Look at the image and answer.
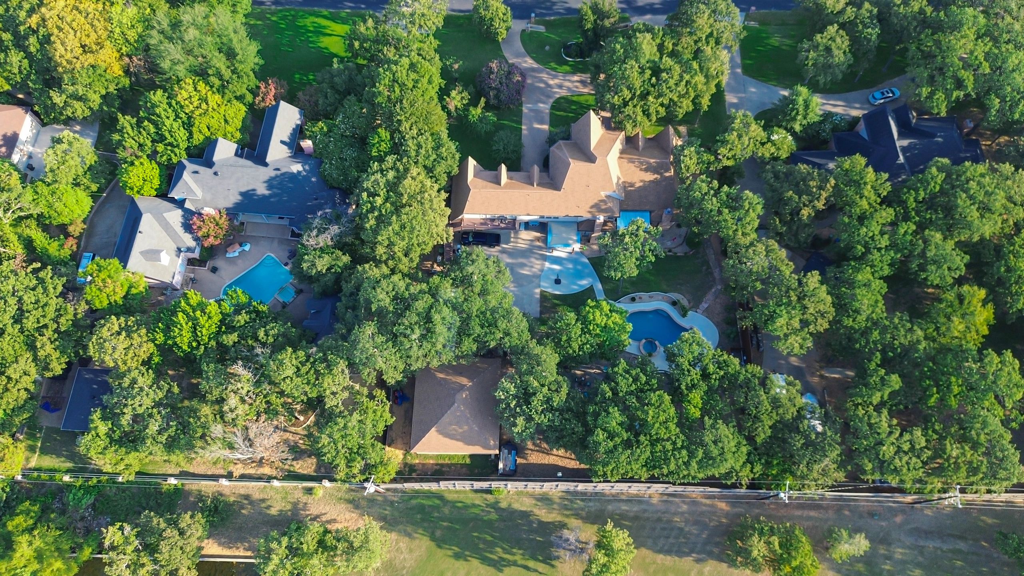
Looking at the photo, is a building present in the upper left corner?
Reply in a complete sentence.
Yes, you'll find a building in the upper left corner.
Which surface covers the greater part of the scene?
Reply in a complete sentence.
Most of the picture is covered by trees.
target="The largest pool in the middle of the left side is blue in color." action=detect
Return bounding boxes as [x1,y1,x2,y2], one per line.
[220,252,295,314]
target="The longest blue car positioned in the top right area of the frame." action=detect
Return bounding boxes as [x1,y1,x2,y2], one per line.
[867,87,902,106]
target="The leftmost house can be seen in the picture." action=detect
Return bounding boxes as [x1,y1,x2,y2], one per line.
[0,106,40,175]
